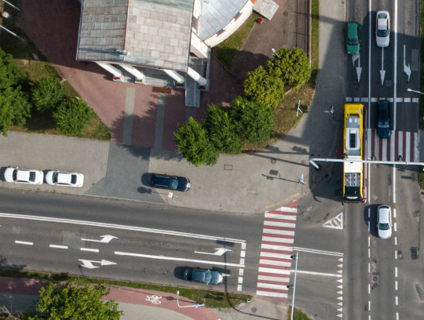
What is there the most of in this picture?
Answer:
paved ground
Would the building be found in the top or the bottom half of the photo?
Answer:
top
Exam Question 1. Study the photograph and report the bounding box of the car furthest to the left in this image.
[6,167,46,185]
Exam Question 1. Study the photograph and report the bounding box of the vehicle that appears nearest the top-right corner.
[374,10,392,49]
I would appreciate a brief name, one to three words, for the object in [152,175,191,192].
car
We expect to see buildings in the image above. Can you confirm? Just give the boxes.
[77,0,255,106]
